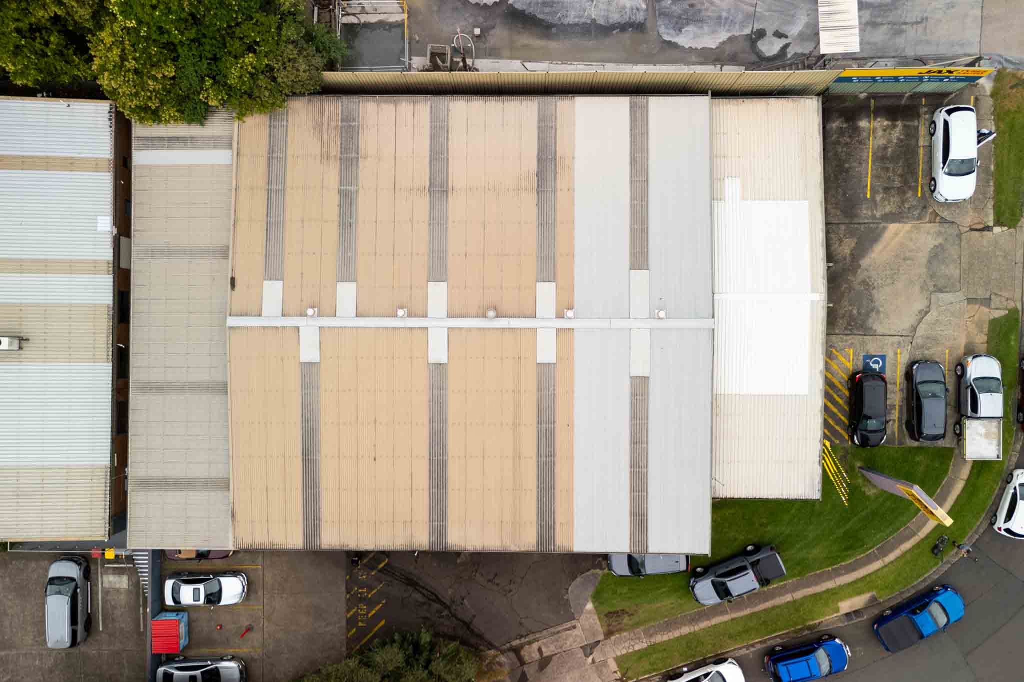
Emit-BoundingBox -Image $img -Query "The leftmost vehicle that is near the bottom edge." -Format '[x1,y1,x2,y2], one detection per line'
[43,554,93,649]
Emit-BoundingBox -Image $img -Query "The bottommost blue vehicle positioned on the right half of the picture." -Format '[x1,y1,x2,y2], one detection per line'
[757,627,848,682]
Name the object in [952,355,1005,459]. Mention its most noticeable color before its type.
white truck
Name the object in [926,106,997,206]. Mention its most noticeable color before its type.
white car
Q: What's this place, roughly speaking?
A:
industrial area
